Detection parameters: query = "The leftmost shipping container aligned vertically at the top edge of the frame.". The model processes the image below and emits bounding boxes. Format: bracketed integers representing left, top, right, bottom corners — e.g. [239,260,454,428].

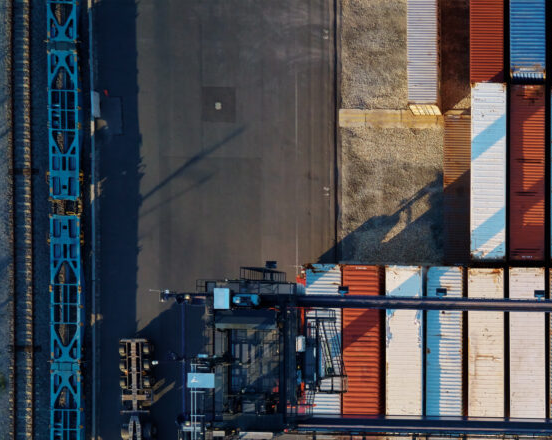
[407,0,444,114]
